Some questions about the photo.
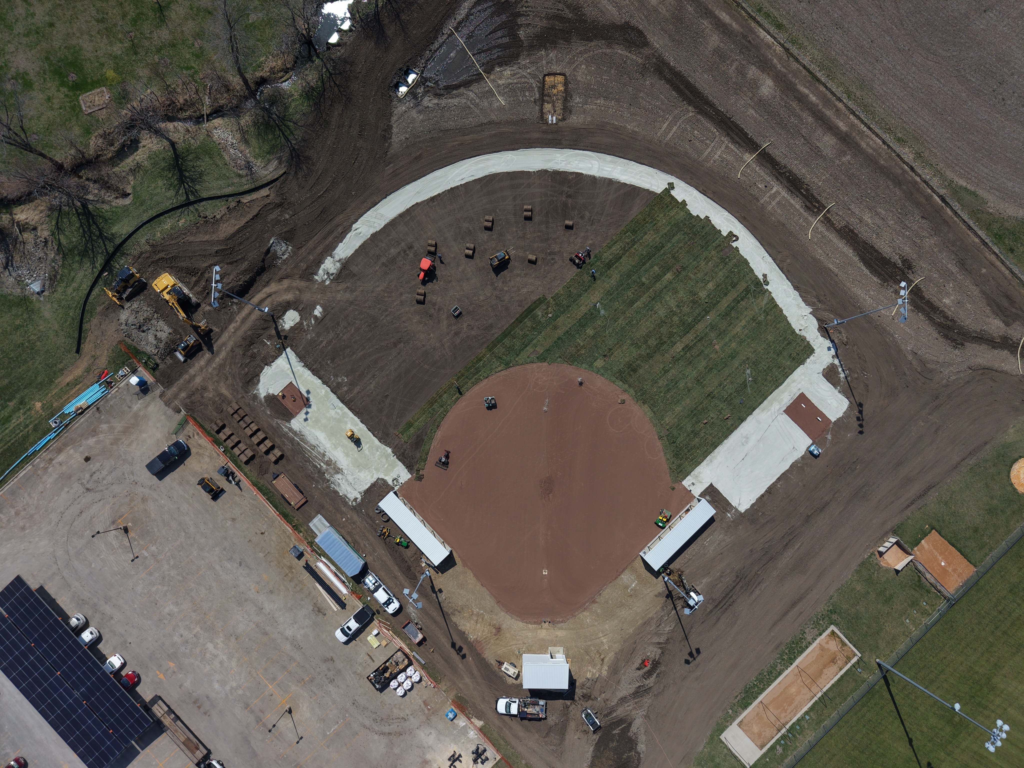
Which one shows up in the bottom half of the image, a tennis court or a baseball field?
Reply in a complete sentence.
What appears in the bottom half of the image is a baseball field.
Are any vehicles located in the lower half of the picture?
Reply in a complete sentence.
Yes, a vehicle shows up in the lower half of the picture.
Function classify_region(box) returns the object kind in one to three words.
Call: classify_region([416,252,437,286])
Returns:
work vehicle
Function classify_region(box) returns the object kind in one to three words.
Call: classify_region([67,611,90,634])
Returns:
car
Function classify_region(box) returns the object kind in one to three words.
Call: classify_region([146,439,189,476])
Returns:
truck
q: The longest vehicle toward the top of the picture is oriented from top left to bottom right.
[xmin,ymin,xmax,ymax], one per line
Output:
[154,275,210,334]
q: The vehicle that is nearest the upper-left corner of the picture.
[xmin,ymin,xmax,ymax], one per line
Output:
[105,267,146,306]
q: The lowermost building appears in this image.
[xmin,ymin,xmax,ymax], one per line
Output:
[522,640,571,696]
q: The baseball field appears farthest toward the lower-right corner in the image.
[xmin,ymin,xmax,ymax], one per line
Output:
[780,522,1024,768]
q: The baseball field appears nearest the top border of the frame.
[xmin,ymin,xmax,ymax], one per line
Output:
[325,148,849,625]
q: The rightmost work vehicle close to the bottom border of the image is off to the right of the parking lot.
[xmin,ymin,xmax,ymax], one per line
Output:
[577,700,602,734]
